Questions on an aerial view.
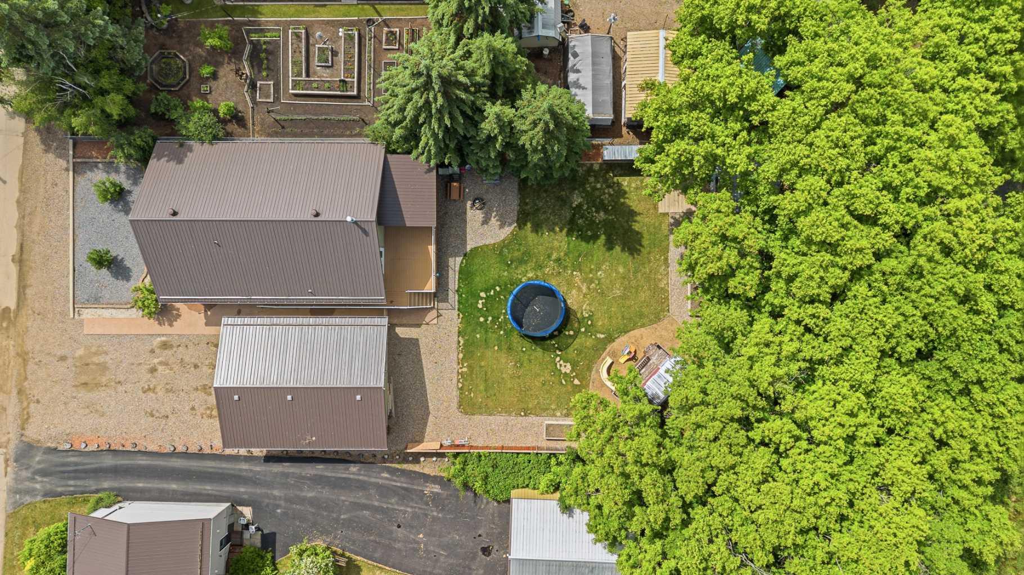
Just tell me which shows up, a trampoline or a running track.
trampoline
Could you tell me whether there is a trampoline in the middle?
Yes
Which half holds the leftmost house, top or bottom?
bottom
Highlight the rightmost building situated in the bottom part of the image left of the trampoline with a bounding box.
[211,314,393,452]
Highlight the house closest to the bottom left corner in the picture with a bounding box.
[65,501,230,575]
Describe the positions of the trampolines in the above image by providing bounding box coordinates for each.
[508,280,566,340]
